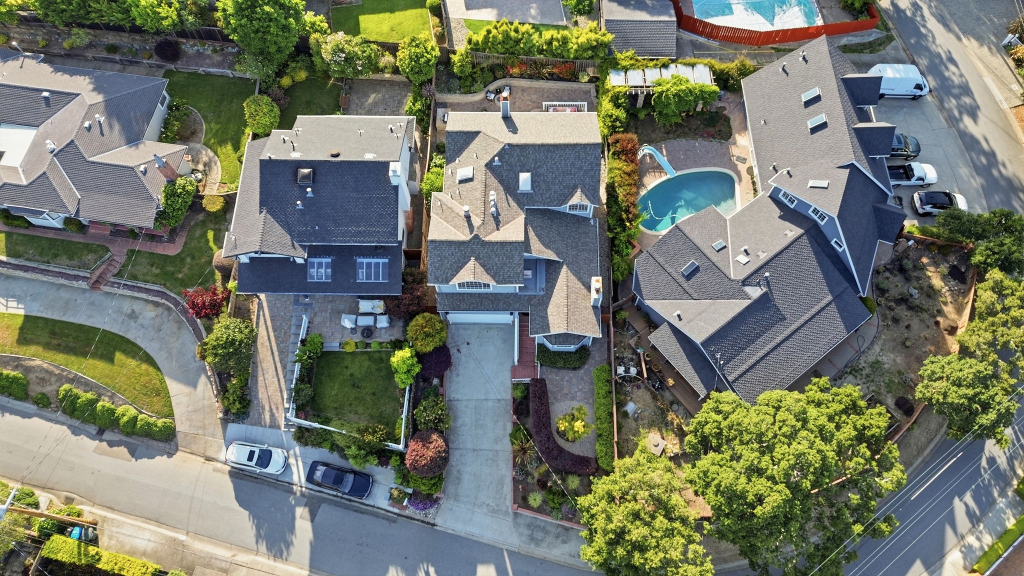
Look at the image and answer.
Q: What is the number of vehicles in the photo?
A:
six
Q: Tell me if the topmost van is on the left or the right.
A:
right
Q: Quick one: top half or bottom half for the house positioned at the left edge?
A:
top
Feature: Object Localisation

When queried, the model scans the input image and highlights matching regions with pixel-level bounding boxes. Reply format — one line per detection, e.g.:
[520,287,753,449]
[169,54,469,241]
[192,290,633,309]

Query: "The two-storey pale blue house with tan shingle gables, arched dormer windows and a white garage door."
[427,87,603,355]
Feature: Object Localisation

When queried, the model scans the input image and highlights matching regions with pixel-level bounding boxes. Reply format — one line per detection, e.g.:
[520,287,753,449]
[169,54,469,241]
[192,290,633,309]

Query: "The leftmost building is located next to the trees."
[0,45,192,237]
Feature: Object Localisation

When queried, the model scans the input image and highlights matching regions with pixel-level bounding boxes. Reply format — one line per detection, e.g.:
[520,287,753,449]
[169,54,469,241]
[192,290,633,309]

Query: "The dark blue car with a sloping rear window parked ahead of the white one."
[306,461,375,503]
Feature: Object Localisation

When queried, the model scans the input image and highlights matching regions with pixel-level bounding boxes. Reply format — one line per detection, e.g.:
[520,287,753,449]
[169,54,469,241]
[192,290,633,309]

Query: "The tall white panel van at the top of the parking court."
[875,69,934,104]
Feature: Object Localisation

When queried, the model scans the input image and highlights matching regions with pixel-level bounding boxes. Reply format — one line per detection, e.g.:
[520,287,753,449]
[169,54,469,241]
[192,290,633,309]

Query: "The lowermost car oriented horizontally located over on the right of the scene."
[911,193,969,218]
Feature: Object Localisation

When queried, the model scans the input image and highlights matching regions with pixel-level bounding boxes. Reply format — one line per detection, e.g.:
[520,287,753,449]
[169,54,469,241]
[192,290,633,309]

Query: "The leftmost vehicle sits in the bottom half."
[223,440,291,479]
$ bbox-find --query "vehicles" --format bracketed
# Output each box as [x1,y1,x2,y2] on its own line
[886,165,944,192]
[223,440,291,479]
[884,137,928,164]
[911,193,969,218]
[875,69,934,104]
[306,461,375,503]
